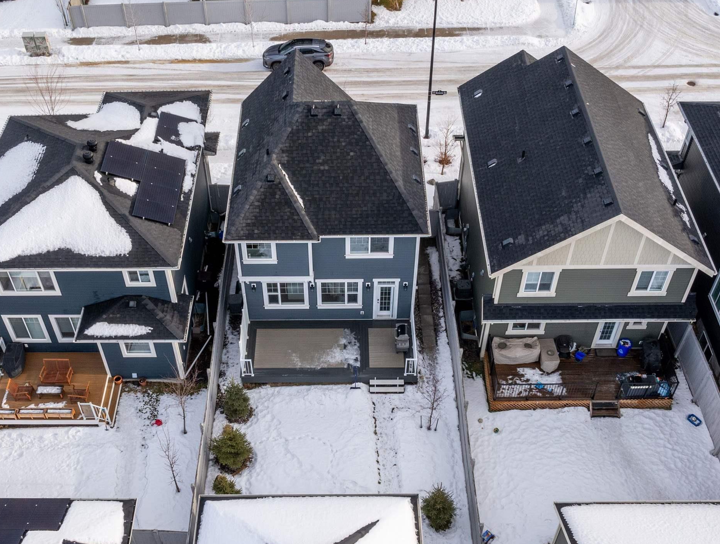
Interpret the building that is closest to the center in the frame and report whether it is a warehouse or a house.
house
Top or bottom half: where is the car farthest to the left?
top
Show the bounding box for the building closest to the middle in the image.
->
[220,46,434,321]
